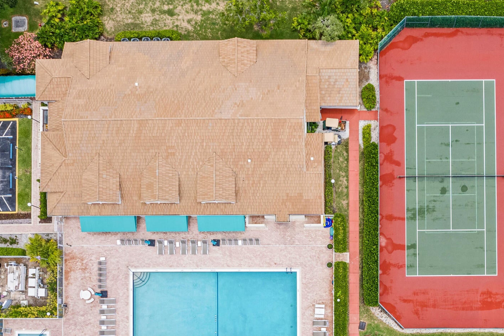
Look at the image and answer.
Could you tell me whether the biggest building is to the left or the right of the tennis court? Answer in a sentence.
The biggest building is to the left of the tennis court.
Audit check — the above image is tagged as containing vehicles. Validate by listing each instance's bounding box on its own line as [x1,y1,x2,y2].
[322,130,343,144]
[323,116,347,130]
